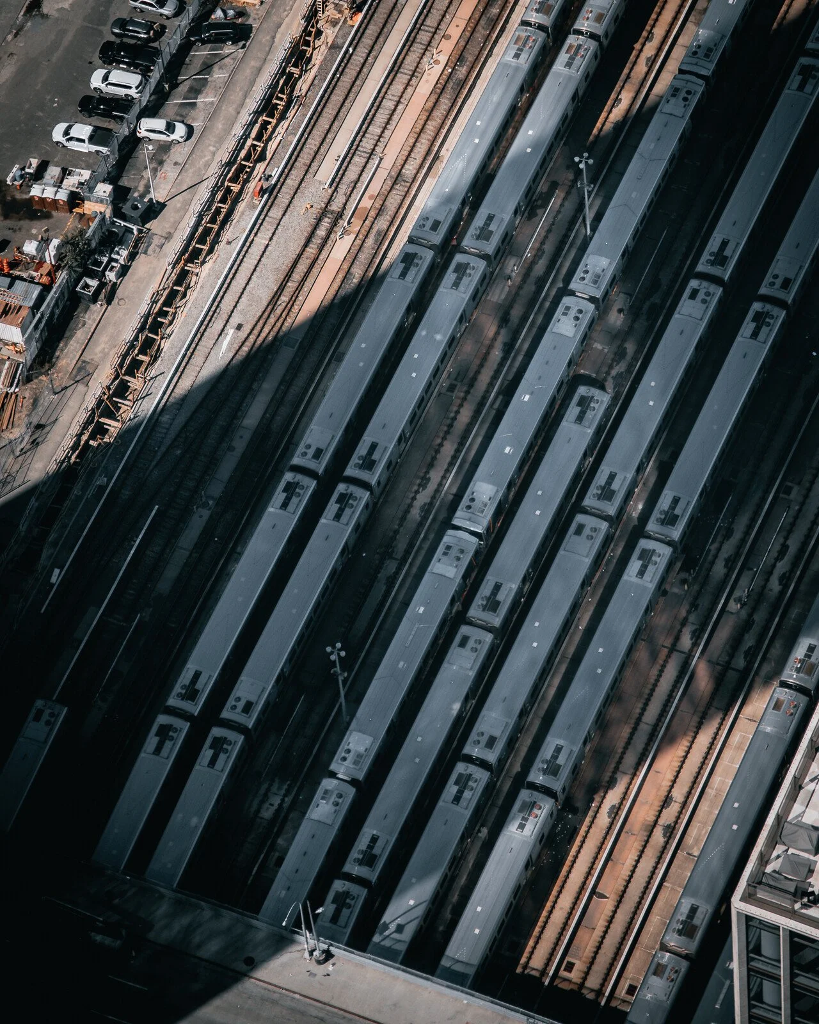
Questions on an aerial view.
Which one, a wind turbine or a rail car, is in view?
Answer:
rail car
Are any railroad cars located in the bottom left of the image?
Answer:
Yes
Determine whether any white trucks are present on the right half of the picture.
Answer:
No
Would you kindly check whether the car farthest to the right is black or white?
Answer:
black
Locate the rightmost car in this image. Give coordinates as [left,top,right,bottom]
[188,23,244,53]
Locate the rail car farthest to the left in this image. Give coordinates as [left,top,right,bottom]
[0,699,71,833]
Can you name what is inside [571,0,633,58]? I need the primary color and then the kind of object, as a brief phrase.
gray rail car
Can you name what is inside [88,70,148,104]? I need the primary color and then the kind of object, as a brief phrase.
white car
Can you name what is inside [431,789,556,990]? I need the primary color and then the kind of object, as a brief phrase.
gray rail car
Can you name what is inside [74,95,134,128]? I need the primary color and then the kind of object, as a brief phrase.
black truck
